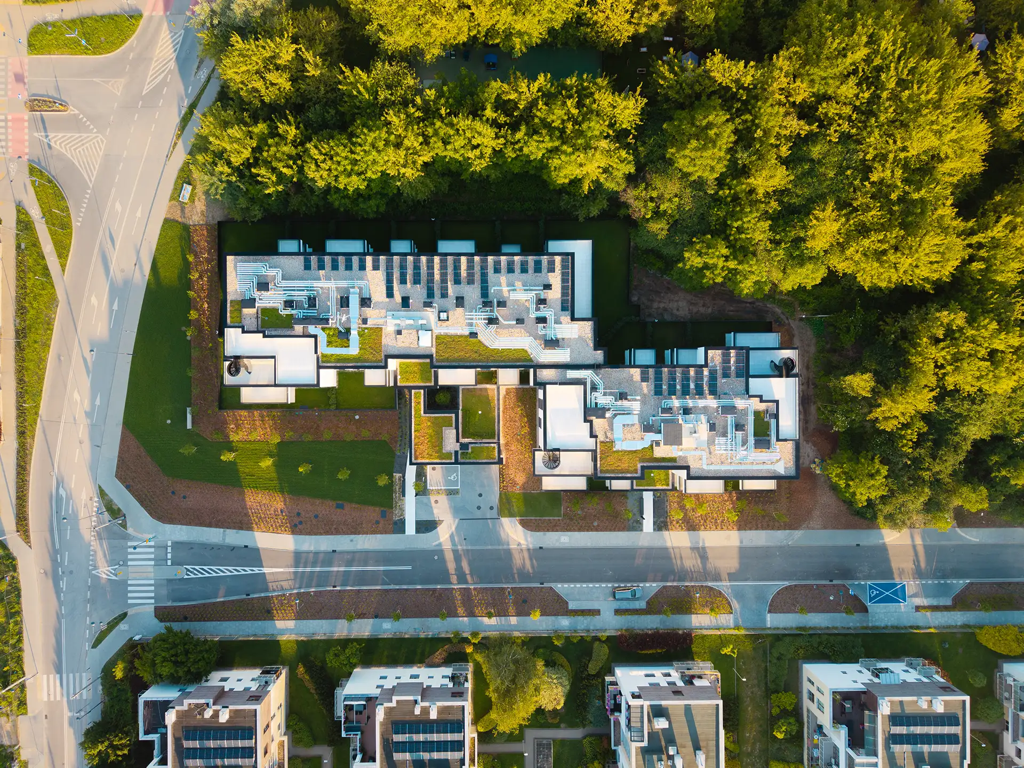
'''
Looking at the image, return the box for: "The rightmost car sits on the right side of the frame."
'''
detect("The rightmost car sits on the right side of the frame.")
[613,587,644,602]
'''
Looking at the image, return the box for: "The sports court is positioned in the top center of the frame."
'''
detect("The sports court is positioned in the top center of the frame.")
[521,33,603,93]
